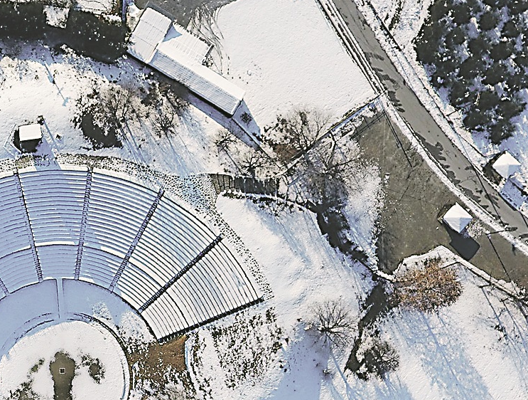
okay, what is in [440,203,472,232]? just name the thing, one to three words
shed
